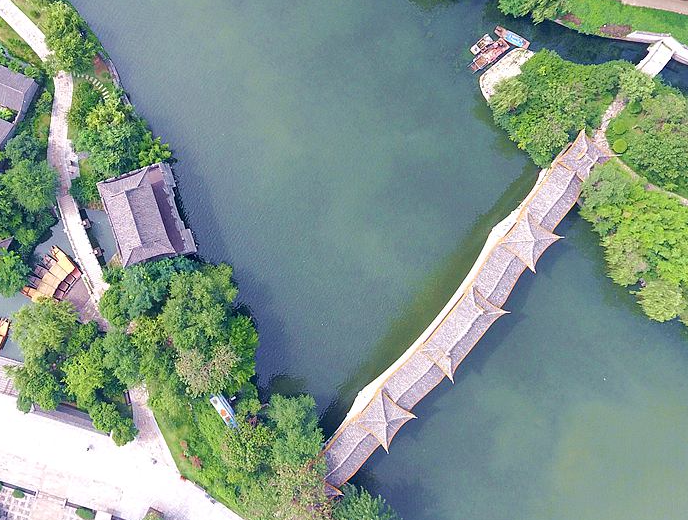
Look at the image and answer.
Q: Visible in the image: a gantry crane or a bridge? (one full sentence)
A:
The image shows a bridge.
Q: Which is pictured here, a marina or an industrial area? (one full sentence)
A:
It's a marina.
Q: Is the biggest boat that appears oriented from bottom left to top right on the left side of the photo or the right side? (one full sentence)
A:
The biggest boat that appears oriented from bottom left to top right is on the right side of the image.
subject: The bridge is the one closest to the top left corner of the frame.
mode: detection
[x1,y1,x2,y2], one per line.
[57,193,110,299]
